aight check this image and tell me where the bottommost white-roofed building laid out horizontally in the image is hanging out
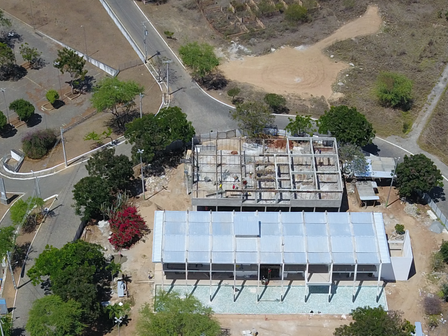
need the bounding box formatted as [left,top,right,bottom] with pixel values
[152,208,413,304]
